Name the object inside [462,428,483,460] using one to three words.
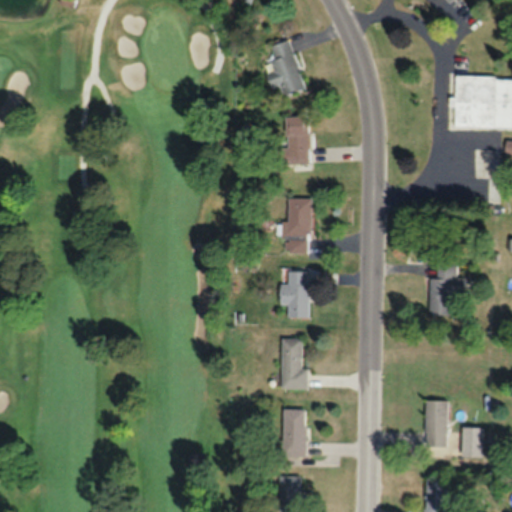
building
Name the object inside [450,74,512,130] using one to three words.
building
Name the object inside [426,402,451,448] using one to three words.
house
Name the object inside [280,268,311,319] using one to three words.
house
